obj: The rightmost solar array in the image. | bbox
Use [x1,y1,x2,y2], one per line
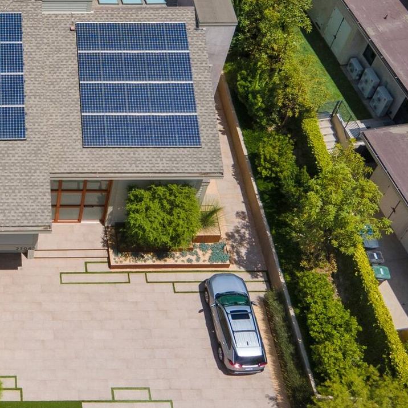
[77,22,201,147]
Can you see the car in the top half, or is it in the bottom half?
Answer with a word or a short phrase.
bottom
